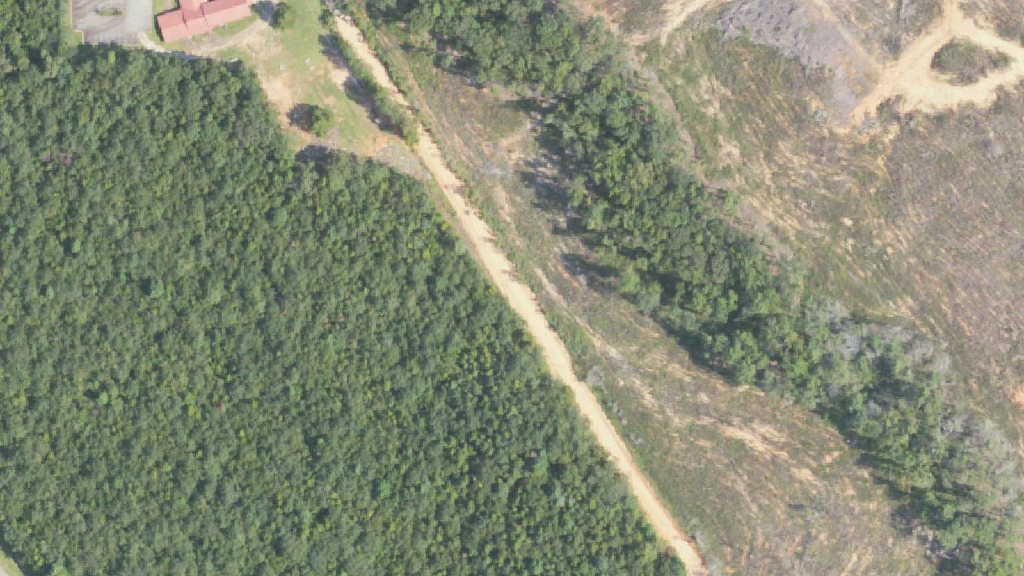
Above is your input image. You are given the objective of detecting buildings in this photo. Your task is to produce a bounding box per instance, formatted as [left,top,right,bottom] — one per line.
[158,0,254,43]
